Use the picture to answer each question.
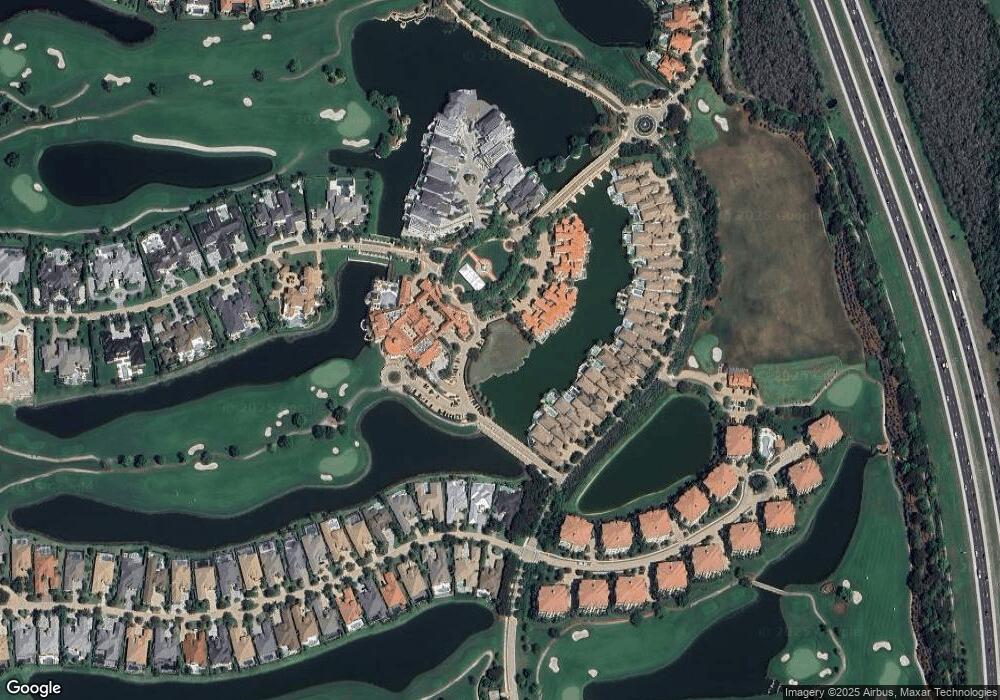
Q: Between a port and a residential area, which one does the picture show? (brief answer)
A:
residential area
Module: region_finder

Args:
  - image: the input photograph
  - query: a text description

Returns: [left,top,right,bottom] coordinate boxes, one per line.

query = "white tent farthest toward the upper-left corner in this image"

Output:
[459,264,485,291]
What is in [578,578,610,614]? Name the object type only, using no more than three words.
building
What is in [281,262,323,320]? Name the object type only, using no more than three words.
house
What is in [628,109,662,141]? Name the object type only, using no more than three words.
roundabout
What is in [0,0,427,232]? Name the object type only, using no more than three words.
golf course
